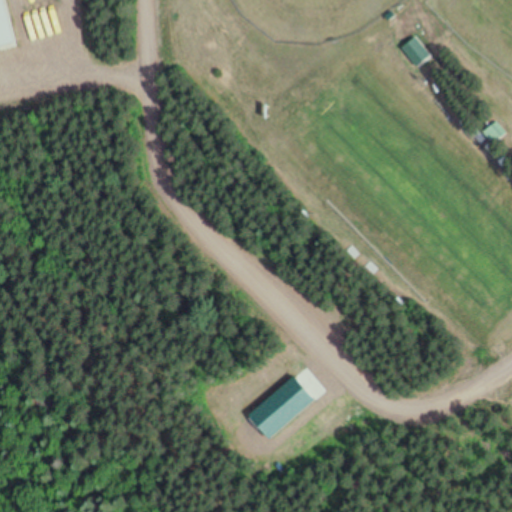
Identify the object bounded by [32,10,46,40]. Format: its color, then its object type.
white vehicle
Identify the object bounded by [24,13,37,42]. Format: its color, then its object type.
white vehicle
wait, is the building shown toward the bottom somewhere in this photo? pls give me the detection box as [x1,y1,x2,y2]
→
[249,377,313,438]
